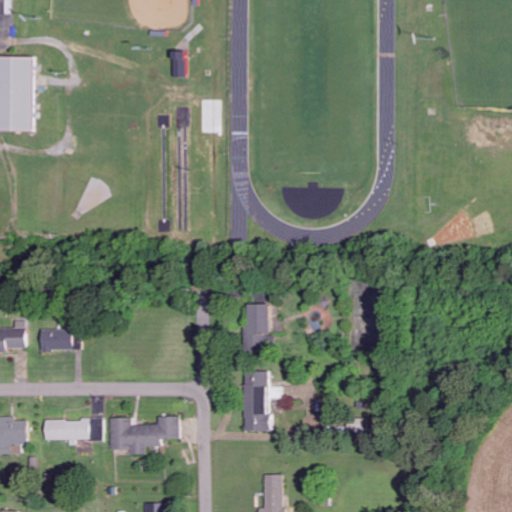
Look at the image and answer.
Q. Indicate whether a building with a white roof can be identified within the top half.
Yes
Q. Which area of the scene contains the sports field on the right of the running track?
top right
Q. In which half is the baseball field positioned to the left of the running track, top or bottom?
top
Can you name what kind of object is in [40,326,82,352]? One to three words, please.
house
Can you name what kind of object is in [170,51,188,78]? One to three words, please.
building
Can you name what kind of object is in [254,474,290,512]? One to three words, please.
house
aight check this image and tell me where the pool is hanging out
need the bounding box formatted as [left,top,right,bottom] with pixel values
[308,312,320,330]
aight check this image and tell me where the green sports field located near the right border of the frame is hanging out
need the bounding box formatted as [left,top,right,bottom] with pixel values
[445,0,512,108]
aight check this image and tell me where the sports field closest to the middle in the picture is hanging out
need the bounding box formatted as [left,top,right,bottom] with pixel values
[250,0,378,228]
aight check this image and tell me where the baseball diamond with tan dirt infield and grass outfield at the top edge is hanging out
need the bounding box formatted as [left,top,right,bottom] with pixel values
[52,0,190,29]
